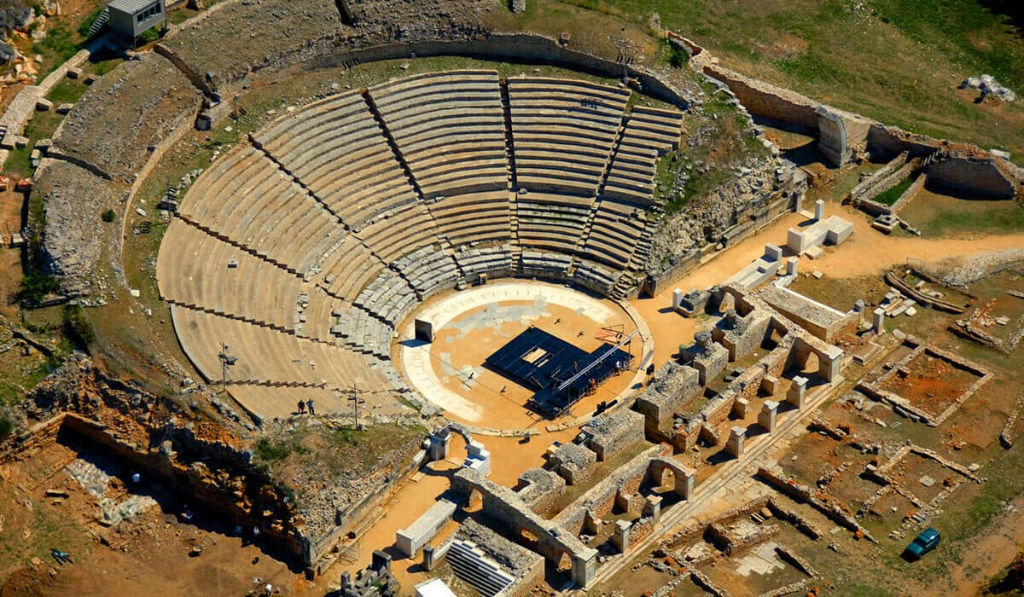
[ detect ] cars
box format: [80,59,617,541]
[904,522,946,559]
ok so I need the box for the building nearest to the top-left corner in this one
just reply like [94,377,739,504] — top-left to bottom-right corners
[106,0,169,53]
